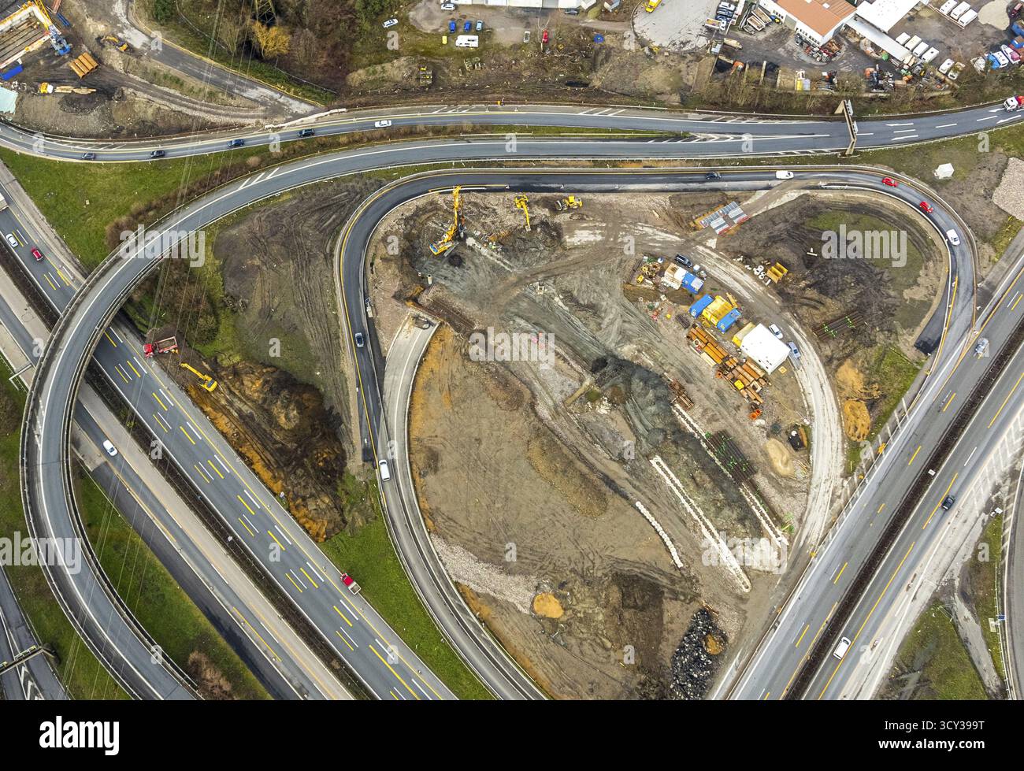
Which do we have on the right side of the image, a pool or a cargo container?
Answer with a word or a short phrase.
cargo container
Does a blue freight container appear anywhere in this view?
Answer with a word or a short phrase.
Yes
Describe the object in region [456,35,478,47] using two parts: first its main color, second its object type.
white vehicle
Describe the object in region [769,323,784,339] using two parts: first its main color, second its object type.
white car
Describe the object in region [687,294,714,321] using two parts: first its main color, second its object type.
blue shipping container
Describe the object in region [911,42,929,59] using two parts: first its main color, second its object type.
white camper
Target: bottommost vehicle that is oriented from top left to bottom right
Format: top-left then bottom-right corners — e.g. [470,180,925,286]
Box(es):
[338,570,362,595]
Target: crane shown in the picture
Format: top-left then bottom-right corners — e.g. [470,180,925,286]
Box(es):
[29,0,73,56]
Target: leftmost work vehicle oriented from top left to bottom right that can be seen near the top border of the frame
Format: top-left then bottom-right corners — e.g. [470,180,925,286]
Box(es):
[99,27,130,49]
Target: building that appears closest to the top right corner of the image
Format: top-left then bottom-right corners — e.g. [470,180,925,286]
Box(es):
[856,0,925,38]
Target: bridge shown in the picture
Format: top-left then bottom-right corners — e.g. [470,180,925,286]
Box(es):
[20,134,845,771]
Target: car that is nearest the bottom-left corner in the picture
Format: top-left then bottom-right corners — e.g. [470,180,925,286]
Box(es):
[102,439,117,456]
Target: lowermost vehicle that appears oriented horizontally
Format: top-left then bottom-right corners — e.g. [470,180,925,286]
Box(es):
[143,338,177,356]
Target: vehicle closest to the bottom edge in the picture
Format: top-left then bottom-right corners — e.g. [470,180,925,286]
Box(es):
[833,637,850,659]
